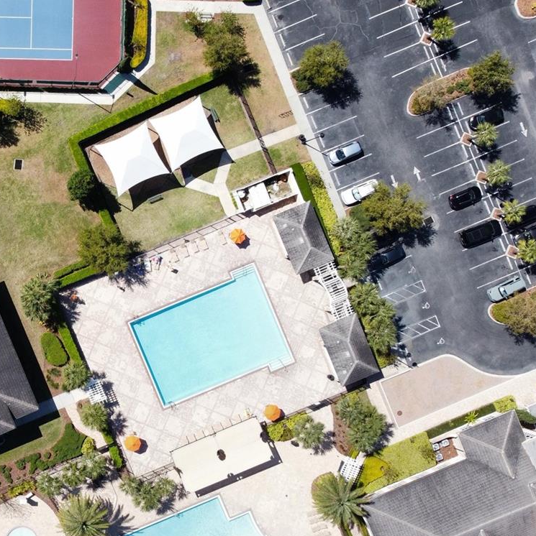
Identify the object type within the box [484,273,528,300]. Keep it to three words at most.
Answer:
car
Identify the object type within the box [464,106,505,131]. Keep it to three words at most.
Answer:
car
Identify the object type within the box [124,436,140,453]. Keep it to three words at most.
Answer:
umbrella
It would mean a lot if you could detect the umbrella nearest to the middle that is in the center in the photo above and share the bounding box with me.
[228,226,246,244]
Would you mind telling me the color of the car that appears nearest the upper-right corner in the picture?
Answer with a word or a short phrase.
black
